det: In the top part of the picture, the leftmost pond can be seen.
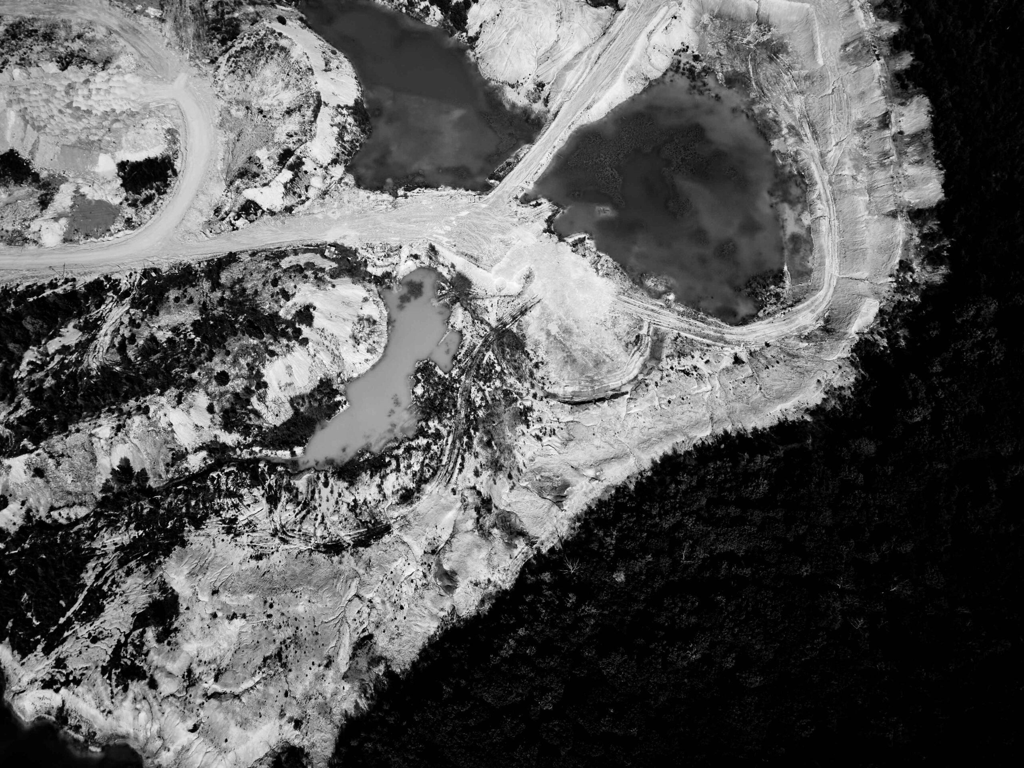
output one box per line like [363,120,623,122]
[64,191,122,241]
